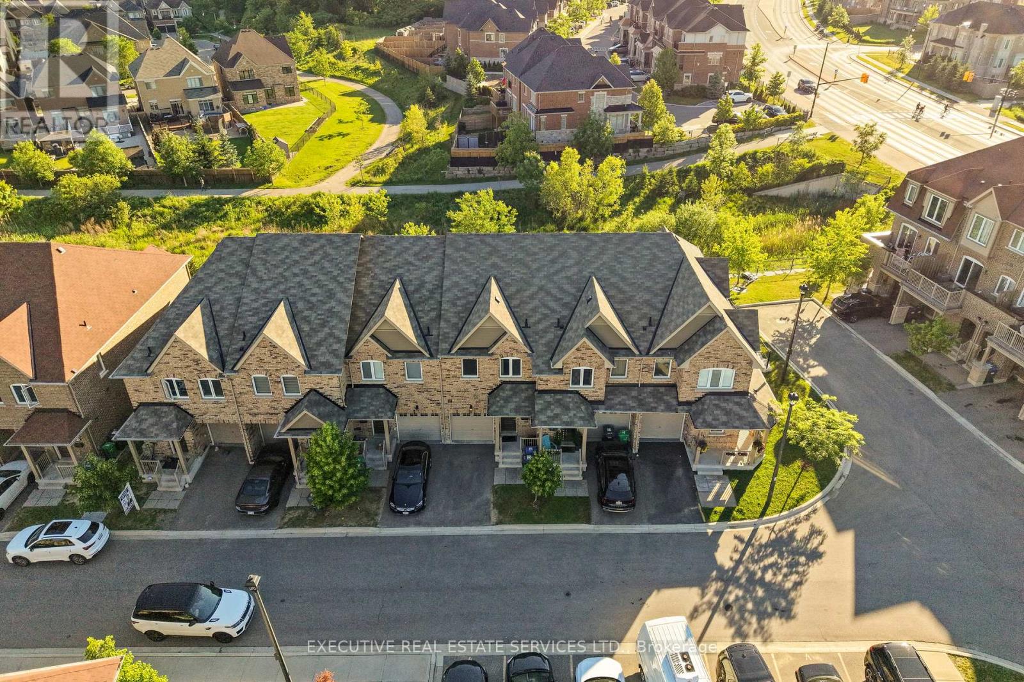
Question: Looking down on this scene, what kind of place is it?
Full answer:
The area seen from above is a residential area.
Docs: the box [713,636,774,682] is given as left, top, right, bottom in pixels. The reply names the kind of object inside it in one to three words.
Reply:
car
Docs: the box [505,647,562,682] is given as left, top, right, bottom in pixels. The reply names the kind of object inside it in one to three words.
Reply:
car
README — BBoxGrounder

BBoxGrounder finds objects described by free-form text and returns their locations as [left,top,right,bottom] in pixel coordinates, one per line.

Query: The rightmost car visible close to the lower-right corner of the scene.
[861,627,941,682]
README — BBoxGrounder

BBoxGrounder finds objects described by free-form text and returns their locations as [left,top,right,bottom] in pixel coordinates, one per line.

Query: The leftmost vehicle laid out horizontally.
[1,514,113,564]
